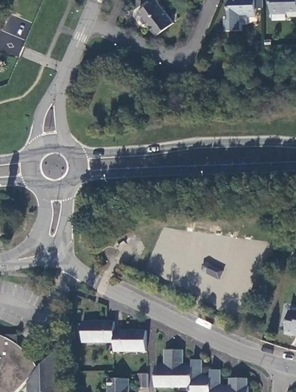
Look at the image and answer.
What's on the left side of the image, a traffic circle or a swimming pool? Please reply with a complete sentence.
The one visible on the left side of the image is a traffic circle.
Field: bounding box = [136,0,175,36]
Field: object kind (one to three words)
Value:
house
